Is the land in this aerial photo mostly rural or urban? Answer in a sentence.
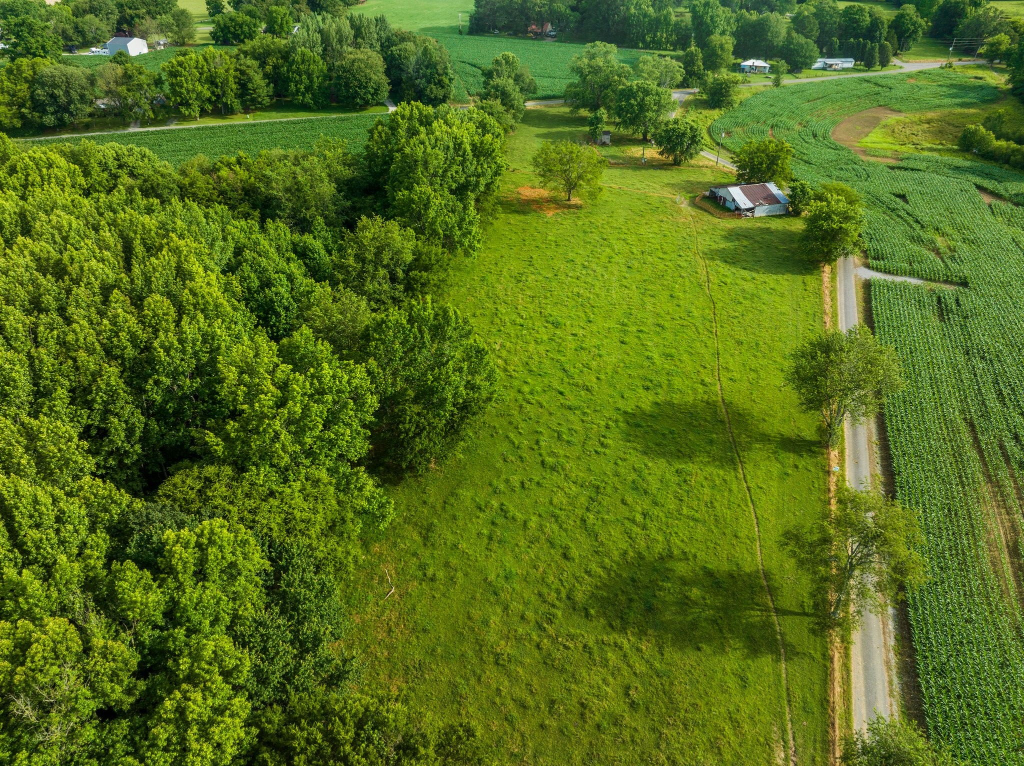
This place is rural.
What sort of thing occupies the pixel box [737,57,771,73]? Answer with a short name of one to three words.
house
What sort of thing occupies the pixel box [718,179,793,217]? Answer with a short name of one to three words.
barn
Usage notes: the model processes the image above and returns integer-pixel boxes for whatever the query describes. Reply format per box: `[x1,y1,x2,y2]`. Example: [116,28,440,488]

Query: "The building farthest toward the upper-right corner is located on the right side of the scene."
[805,55,856,70]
